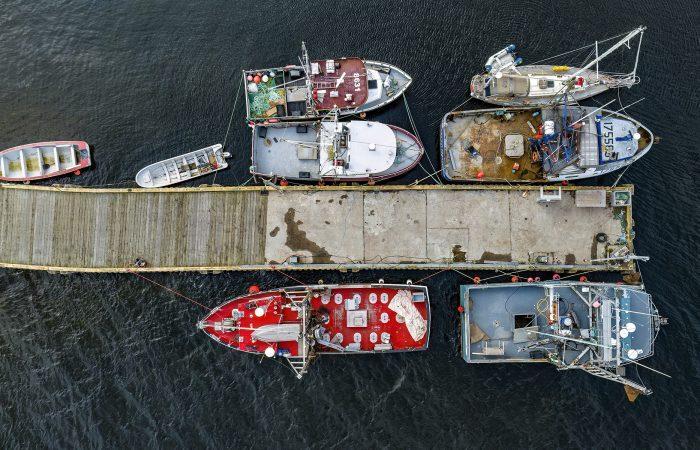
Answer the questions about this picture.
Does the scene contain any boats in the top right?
Yes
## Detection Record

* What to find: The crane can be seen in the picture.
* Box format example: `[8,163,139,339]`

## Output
[592,245,651,264]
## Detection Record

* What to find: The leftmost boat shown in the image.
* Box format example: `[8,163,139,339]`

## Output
[0,140,92,182]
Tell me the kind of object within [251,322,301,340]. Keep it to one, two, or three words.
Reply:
boat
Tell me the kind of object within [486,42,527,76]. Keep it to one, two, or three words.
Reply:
boat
